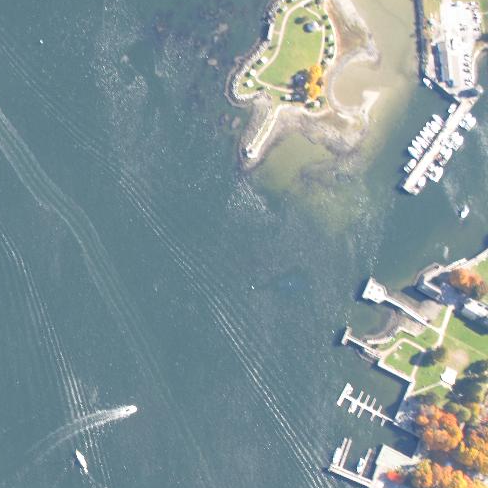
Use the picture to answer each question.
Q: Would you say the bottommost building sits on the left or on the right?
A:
right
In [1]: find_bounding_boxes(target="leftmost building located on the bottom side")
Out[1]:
[436,364,460,385]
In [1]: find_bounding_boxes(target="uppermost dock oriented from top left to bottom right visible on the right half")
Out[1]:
[384,293,442,332]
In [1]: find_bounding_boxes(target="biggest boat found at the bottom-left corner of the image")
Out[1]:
[75,450,89,474]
